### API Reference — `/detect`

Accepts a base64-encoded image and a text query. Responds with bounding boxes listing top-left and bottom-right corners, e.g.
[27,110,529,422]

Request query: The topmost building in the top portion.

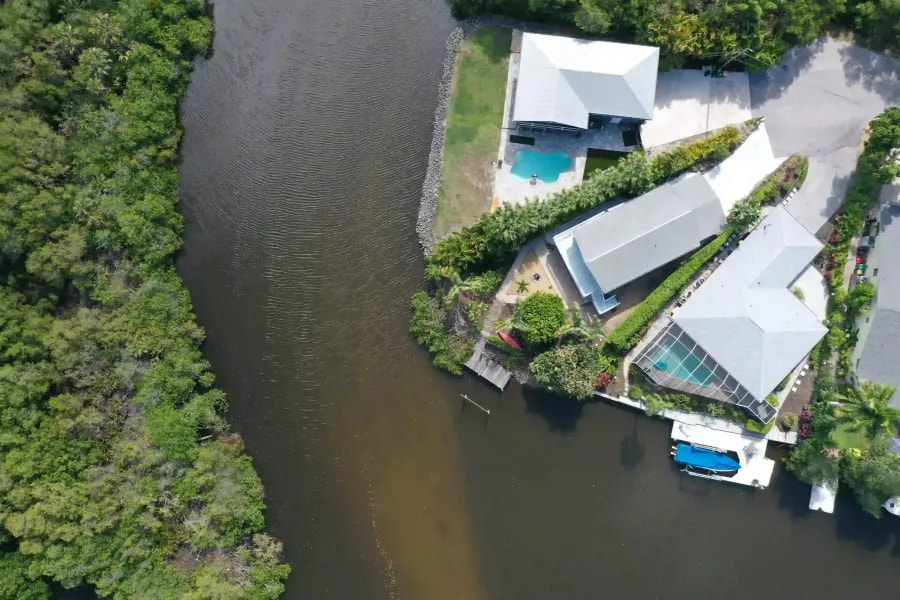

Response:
[513,33,660,138]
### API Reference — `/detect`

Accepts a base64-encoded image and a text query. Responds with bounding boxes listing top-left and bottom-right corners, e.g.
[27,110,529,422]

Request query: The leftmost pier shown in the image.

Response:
[467,330,512,391]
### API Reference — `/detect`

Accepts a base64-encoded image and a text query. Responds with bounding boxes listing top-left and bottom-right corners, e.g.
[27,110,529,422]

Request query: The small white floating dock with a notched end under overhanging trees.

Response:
[808,461,839,513]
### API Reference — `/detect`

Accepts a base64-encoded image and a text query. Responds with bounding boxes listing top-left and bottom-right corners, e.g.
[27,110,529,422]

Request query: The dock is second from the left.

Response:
[668,421,775,489]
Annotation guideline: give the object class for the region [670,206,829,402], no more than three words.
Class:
house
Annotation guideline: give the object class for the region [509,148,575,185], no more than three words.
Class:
swimming pool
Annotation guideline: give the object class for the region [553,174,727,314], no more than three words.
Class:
house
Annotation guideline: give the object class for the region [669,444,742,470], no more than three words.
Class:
boat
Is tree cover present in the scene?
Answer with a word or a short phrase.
Yes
